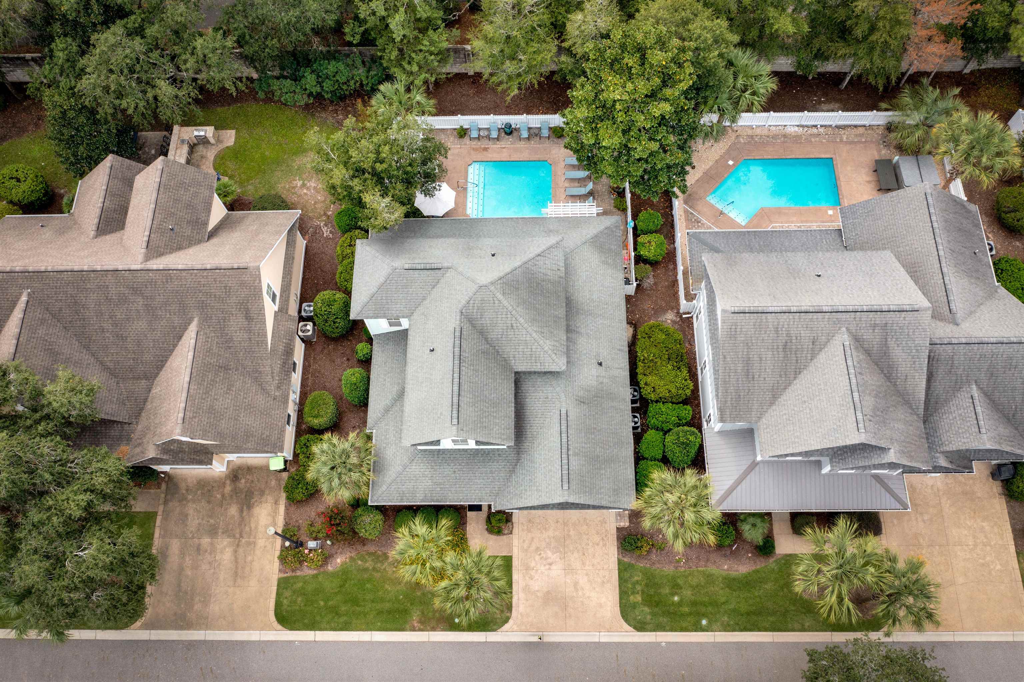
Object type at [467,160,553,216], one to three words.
swimming pool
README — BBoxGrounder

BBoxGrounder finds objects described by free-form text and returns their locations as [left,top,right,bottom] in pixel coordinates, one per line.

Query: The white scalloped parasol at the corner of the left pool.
[415,184,456,216]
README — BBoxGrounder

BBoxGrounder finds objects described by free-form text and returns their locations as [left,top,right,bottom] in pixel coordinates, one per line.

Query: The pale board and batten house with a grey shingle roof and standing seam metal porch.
[685,186,1024,514]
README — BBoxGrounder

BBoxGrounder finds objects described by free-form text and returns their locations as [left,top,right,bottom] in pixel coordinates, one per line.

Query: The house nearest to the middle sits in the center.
[348,216,636,514]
